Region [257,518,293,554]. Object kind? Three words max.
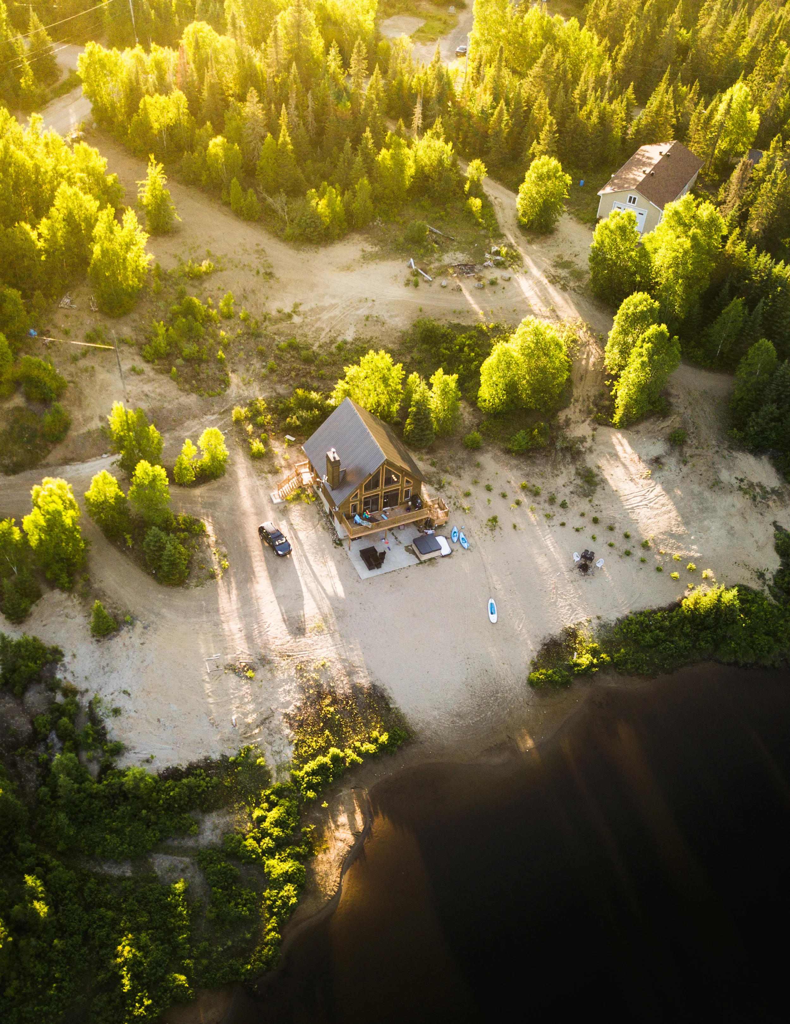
car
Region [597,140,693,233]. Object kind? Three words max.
building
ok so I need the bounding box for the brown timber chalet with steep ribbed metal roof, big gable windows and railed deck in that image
[277,396,449,552]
